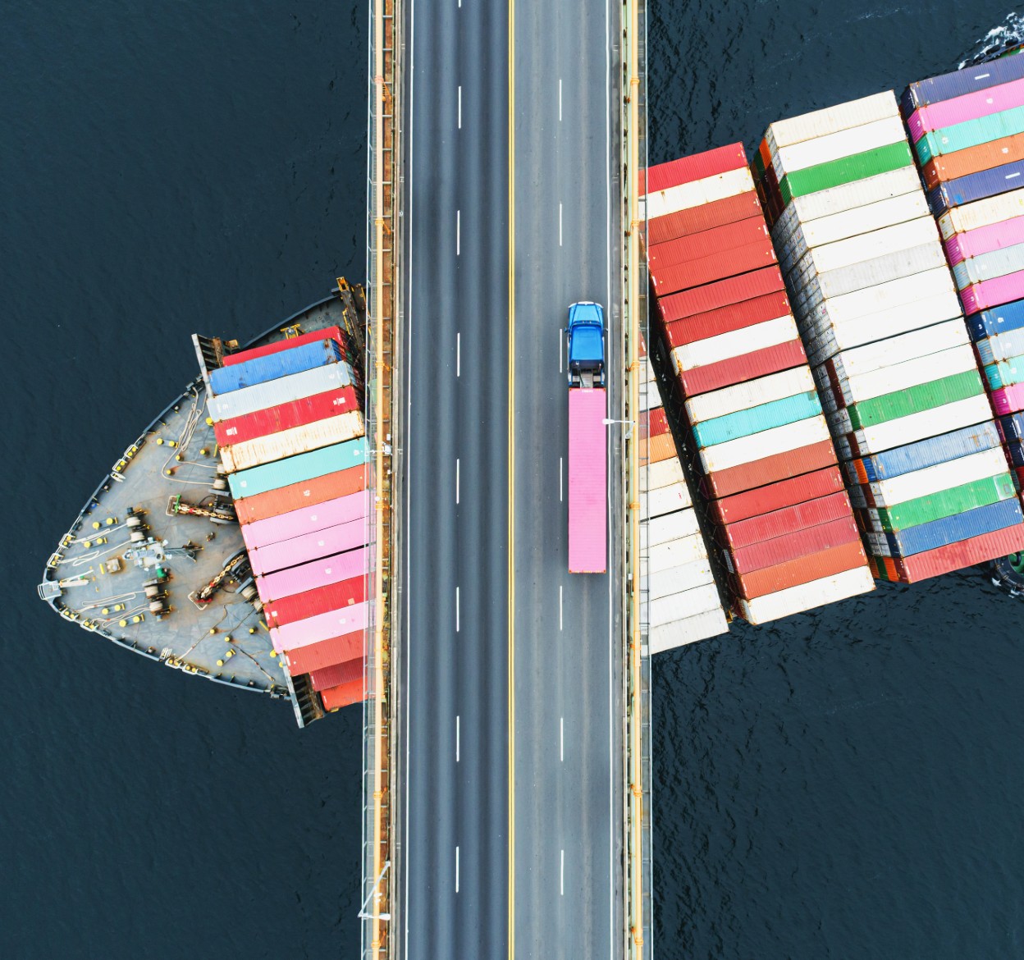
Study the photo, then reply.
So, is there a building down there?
No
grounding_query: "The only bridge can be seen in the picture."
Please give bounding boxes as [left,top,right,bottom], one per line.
[361,0,653,960]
